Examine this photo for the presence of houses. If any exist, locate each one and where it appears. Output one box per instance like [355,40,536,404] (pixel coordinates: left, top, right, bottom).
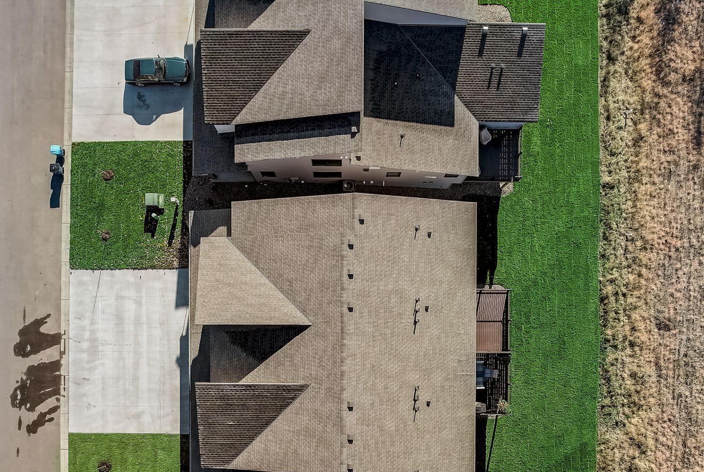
[189,192,515,472]
[192,0,546,192]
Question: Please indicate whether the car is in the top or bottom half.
top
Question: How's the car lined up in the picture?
from side to side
